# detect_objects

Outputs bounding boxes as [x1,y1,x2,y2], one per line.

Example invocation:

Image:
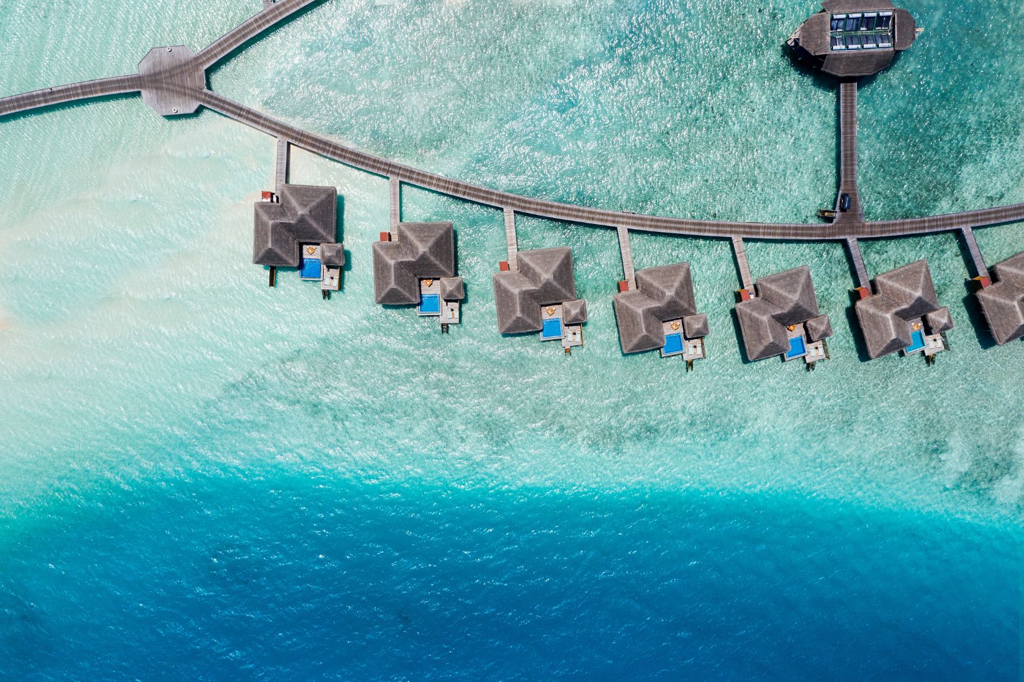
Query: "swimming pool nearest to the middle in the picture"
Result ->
[539,316,564,341]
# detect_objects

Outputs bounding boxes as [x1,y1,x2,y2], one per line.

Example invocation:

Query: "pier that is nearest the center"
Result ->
[503,207,519,272]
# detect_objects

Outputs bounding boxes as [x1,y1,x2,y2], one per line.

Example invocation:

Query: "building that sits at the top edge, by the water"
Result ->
[778,0,924,77]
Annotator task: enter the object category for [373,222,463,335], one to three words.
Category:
house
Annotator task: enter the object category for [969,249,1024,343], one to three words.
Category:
house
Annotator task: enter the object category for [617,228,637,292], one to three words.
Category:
pier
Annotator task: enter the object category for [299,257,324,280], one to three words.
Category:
swimming pool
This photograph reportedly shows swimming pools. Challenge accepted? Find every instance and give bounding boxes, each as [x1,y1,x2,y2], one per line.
[418,292,442,315]
[539,316,564,341]
[658,331,685,356]
[299,257,324,280]
[898,327,927,355]
[780,334,808,361]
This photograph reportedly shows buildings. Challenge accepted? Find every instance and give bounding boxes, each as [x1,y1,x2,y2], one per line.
[778,0,924,77]
[735,265,831,372]
[493,247,586,358]
[373,222,463,335]
[969,249,1024,343]
[254,184,344,302]
[851,259,952,366]
[613,262,707,372]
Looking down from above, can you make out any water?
Yes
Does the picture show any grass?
No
